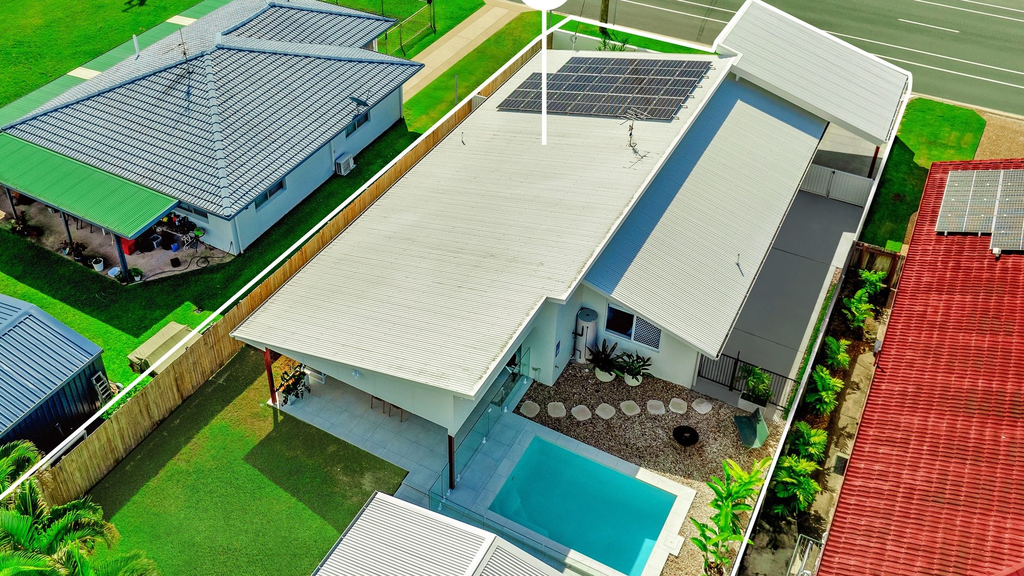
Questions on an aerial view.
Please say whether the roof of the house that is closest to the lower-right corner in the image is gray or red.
red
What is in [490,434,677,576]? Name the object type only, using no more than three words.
swimming pool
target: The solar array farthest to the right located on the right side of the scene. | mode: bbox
[935,164,1024,257]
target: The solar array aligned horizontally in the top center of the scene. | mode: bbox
[498,55,716,122]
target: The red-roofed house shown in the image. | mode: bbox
[810,155,1024,576]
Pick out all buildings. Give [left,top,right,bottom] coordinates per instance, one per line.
[224,45,831,489]
[810,155,1024,576]
[0,0,427,253]
[307,489,566,576]
[0,294,113,508]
